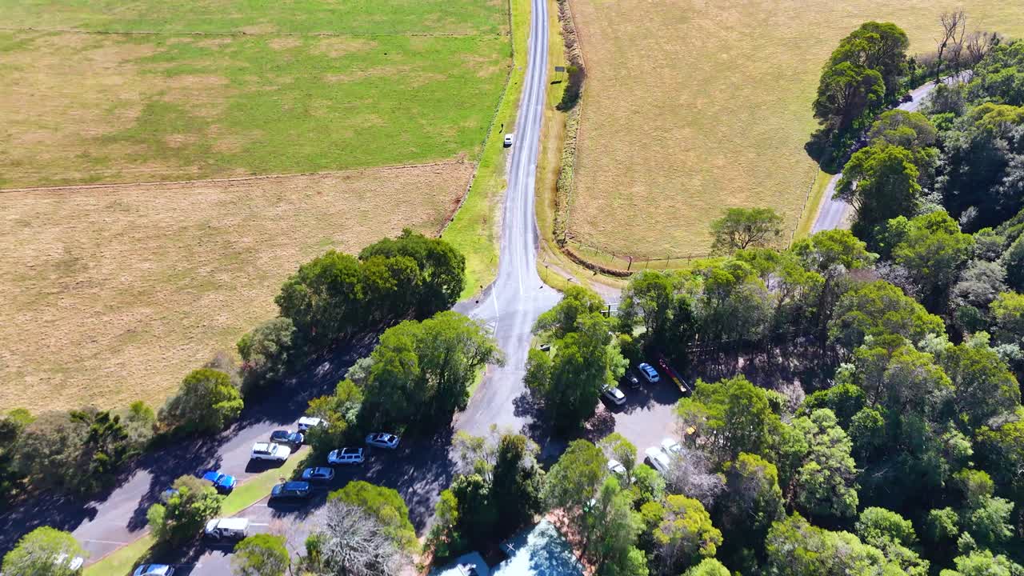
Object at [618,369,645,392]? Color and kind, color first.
black car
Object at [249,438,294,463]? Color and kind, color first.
white car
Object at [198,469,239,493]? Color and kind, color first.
blue car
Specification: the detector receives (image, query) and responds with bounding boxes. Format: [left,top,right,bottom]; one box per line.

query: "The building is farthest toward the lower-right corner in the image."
[487,519,598,576]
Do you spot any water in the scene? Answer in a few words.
No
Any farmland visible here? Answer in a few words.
Yes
